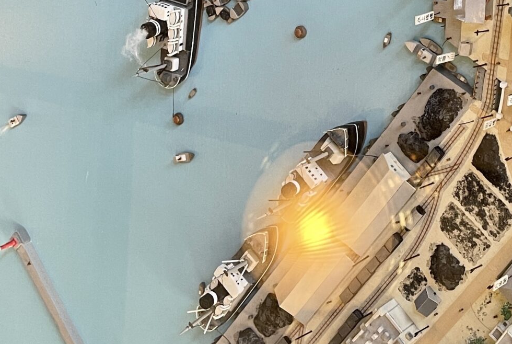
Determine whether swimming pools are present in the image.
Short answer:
No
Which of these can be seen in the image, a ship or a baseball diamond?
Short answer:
ship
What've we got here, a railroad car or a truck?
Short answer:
railroad car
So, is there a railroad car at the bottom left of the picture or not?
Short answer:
No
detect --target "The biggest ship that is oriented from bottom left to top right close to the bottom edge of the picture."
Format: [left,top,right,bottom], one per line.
[184,222,301,338]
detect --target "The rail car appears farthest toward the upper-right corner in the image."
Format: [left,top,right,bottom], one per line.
[427,143,447,161]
